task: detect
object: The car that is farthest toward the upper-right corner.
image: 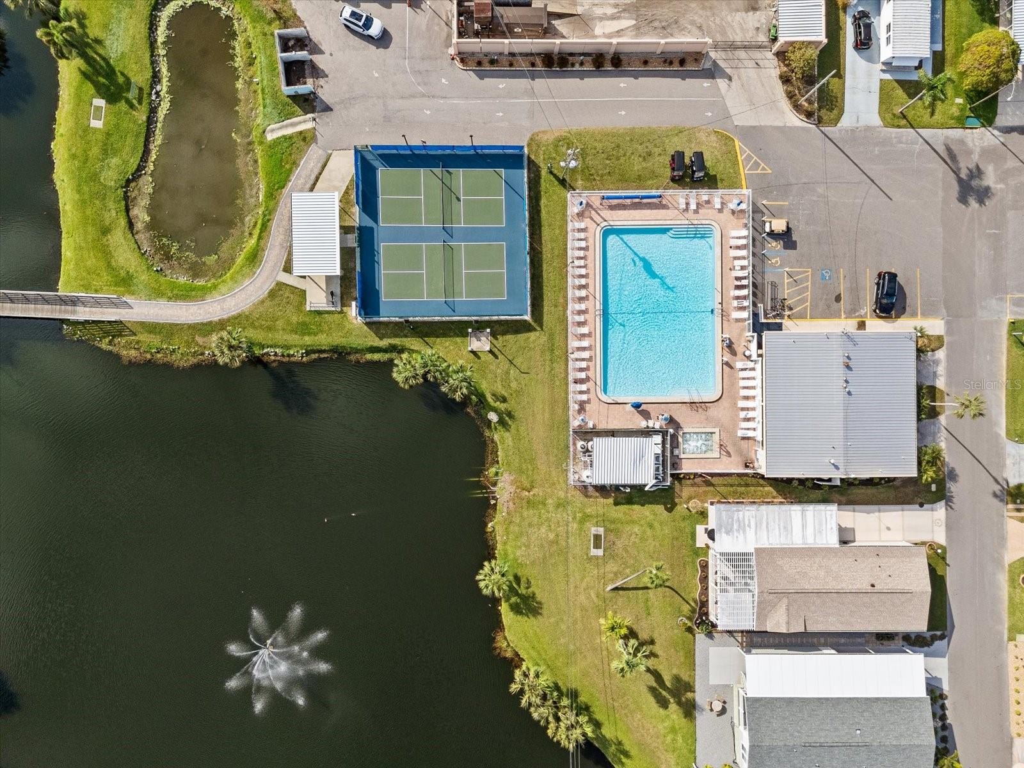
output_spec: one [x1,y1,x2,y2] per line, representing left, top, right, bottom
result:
[853,8,877,49]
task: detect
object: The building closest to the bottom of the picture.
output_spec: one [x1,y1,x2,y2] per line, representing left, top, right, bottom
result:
[730,651,935,768]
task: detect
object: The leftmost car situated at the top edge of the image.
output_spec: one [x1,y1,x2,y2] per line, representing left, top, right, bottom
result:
[338,3,384,38]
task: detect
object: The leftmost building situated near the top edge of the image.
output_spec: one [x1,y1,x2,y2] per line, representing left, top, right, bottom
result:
[765,0,827,56]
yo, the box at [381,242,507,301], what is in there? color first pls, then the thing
green sports court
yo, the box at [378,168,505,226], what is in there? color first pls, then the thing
green sports court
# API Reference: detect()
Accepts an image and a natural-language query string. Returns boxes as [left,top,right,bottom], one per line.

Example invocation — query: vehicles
[763,216,791,232]
[671,150,688,180]
[853,8,877,49]
[689,150,708,182]
[876,271,903,317]
[338,3,384,38]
